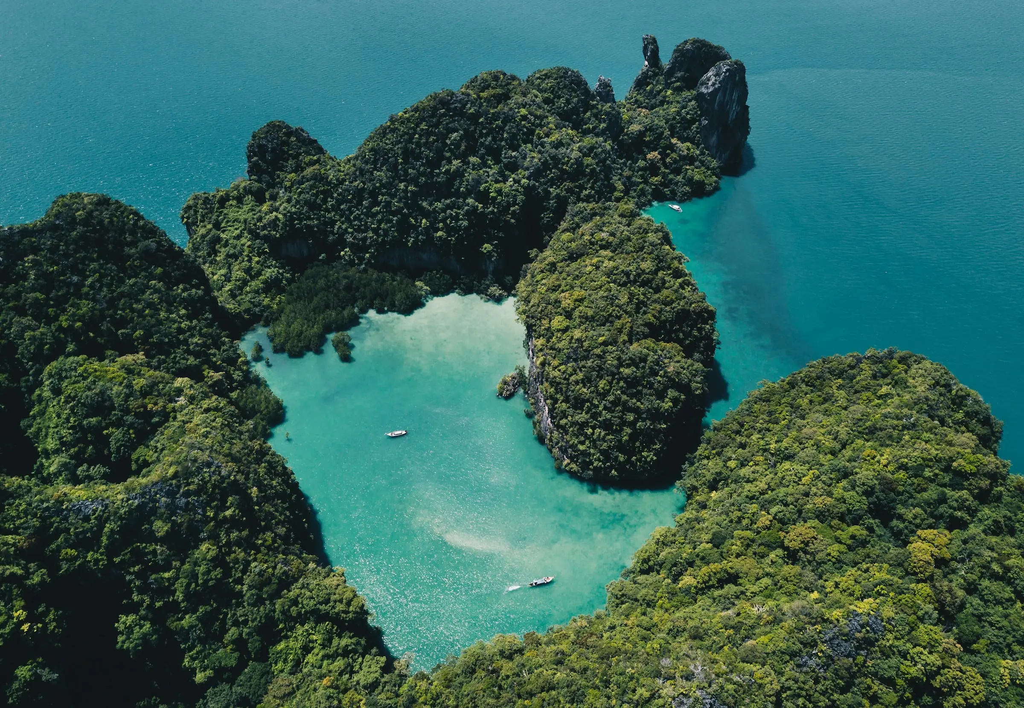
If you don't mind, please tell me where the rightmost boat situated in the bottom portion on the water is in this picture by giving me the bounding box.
[526,573,555,588]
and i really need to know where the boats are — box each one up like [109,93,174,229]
[526,573,555,588]
[670,204,683,212]
[383,429,407,436]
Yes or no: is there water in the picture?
Yes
